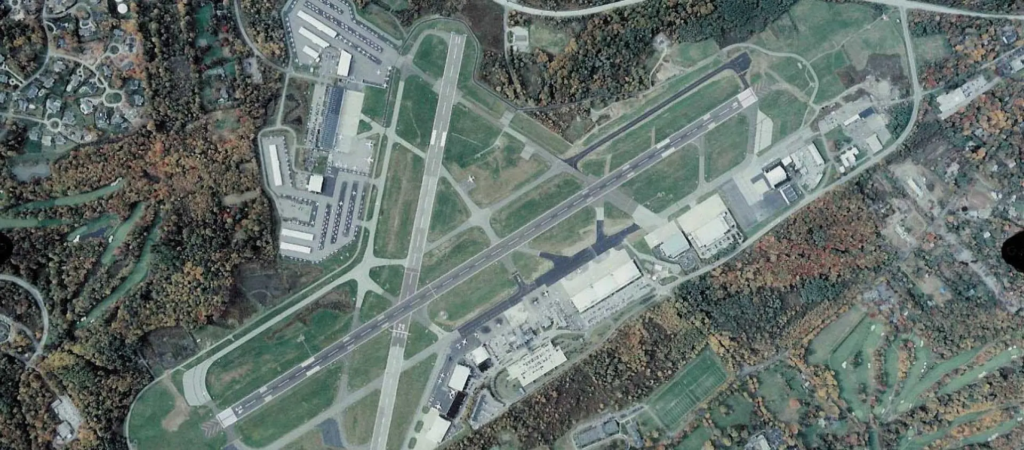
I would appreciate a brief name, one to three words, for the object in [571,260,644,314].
hangar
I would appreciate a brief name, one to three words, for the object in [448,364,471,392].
hangar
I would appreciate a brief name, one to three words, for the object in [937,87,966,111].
building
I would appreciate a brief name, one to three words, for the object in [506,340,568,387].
building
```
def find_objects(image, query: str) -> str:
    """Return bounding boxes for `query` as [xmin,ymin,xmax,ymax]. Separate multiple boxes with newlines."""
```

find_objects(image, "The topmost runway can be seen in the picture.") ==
[425,33,466,175]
